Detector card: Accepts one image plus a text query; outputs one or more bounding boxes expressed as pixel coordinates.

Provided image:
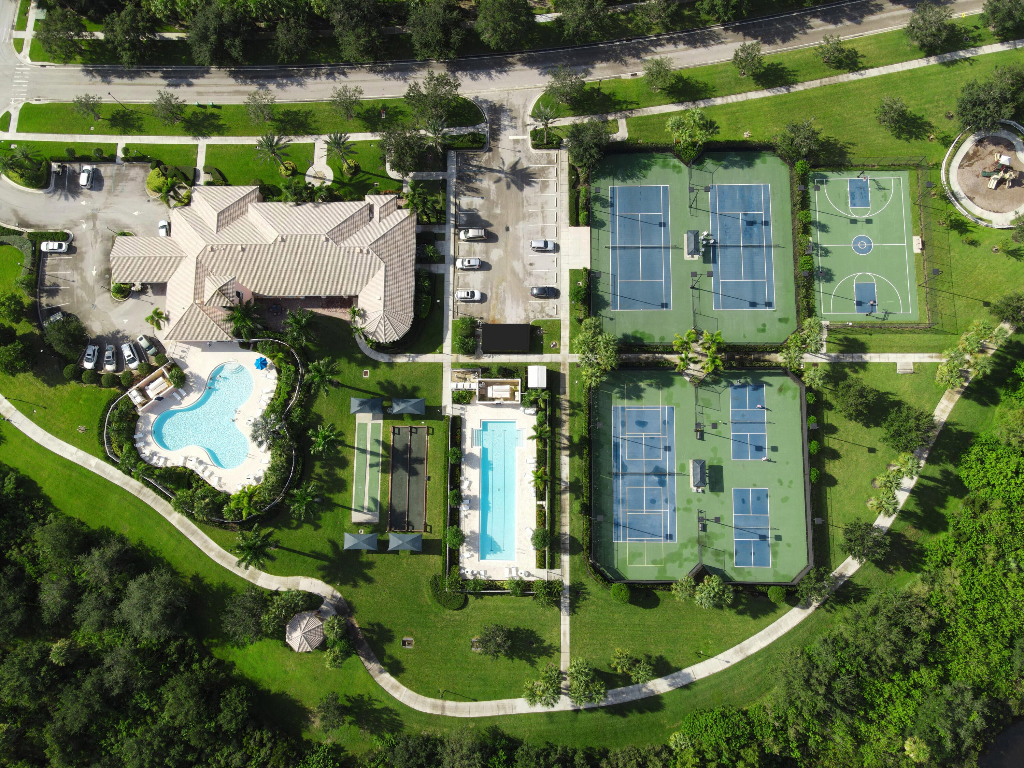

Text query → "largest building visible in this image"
[110,186,417,342]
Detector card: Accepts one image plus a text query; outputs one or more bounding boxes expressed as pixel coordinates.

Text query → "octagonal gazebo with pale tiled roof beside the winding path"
[286,612,327,653]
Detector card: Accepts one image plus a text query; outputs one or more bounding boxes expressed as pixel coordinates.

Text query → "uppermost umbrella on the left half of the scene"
[254,357,268,371]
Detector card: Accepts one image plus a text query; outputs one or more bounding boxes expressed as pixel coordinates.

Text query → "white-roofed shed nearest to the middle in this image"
[528,365,546,389]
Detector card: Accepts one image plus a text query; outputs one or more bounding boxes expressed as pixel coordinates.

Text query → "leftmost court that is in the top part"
[591,153,696,342]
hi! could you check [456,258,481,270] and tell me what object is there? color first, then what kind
white vehicle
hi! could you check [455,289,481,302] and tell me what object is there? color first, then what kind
white vehicle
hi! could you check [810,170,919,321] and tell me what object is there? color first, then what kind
green basketball court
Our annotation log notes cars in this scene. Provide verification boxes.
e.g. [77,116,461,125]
[44,308,69,326]
[122,342,140,370]
[460,229,487,242]
[136,332,159,357]
[80,167,95,188]
[43,242,68,253]
[158,217,171,236]
[104,345,119,371]
[531,287,557,299]
[84,345,101,370]
[455,289,481,302]
[456,258,481,270]
[530,240,555,252]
